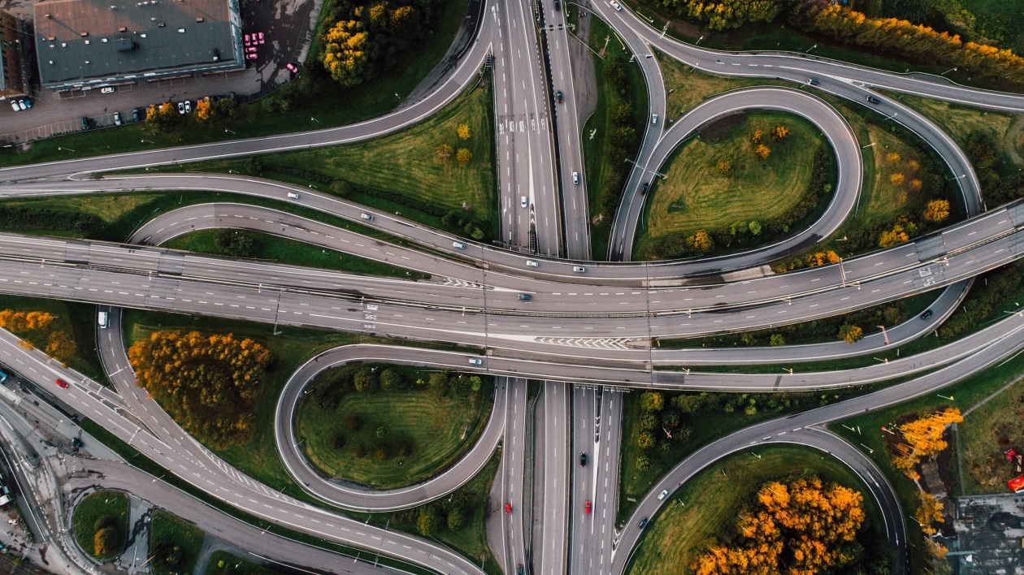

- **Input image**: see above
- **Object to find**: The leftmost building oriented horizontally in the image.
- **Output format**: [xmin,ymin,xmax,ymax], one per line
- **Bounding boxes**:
[28,0,251,92]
